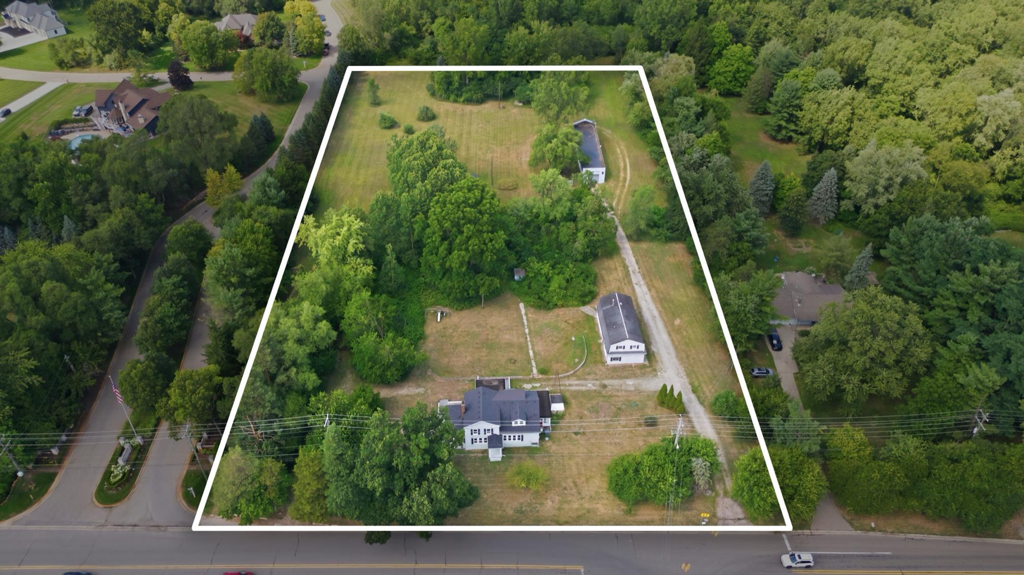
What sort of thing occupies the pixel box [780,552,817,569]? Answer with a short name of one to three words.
car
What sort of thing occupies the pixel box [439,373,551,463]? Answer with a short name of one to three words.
house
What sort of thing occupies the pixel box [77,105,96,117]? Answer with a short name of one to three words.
vehicle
